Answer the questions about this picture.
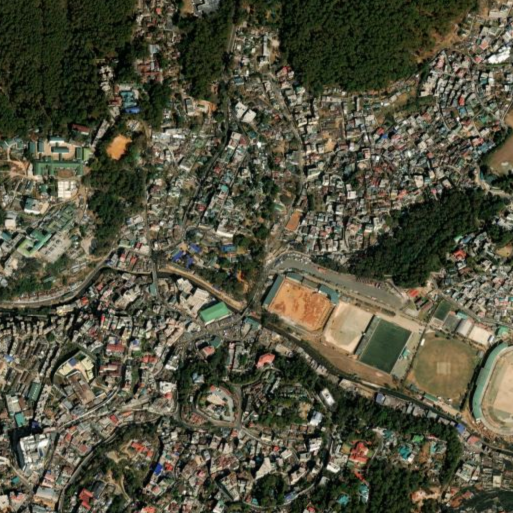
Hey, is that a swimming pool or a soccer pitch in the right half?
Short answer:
soccer pitch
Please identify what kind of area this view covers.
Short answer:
residential area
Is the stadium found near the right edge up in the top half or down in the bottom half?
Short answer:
bottom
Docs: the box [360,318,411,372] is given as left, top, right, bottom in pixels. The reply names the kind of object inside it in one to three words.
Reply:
soccer field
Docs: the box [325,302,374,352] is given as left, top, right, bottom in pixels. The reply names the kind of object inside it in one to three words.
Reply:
sports field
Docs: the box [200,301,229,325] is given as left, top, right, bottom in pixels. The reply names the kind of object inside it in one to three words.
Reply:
building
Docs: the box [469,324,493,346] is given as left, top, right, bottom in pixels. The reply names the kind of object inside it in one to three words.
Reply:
building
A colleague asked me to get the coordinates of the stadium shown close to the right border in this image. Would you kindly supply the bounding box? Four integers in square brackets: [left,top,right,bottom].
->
[458,324,513,438]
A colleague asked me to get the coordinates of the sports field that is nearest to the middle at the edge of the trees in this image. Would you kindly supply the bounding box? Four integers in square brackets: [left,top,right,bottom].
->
[268,278,333,330]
